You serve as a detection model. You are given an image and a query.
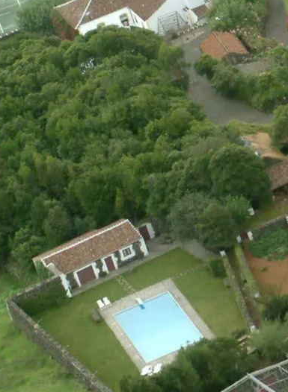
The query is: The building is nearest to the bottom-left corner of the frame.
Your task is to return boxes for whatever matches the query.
[33,216,146,292]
